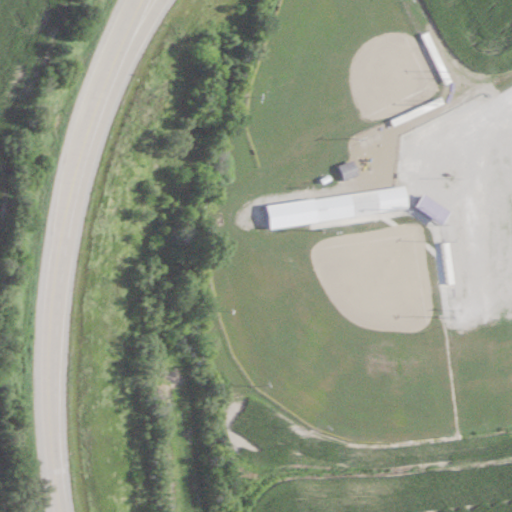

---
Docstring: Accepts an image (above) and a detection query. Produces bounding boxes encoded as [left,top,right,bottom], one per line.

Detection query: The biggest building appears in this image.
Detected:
[267,186,411,231]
